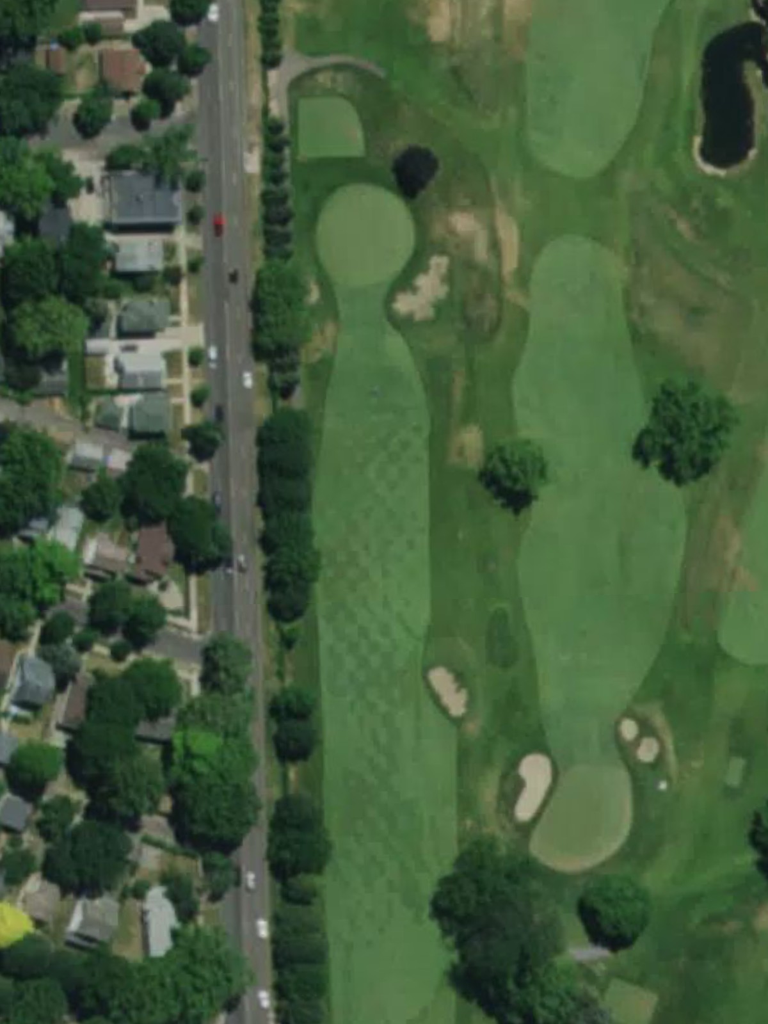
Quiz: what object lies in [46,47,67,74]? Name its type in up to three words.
shed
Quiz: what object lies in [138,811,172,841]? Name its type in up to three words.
building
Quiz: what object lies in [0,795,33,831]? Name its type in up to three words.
building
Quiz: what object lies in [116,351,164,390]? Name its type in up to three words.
house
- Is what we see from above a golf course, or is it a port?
golf course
